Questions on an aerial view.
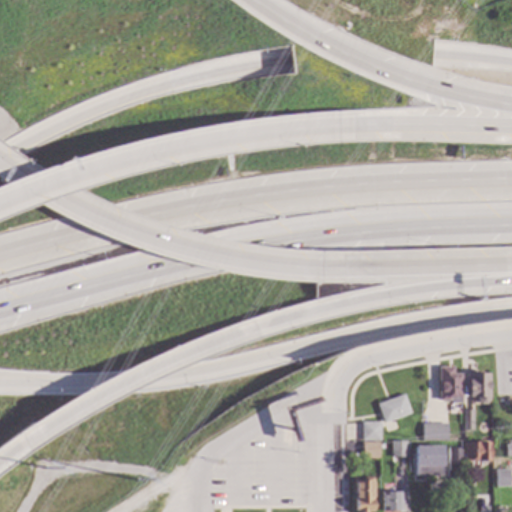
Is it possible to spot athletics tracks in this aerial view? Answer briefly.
No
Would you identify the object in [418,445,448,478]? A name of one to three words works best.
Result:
house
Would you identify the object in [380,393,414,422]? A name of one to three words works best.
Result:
house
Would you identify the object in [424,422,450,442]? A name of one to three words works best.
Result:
building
